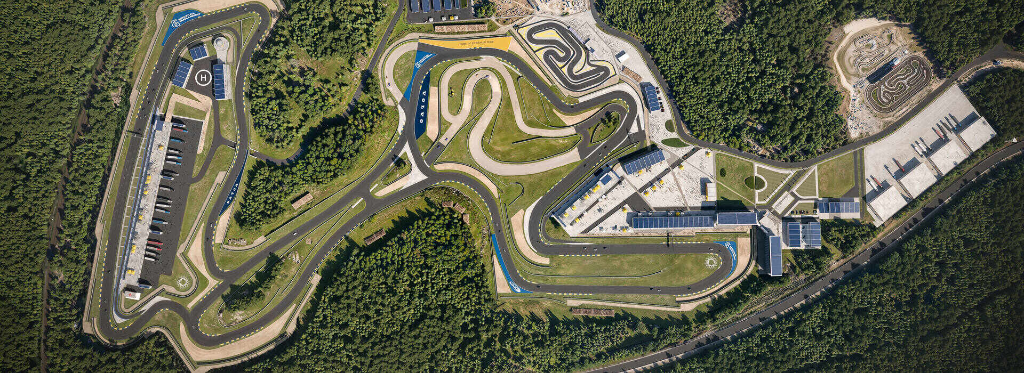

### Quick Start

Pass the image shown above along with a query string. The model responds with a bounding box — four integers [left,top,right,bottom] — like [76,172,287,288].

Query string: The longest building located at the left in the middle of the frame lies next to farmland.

[125,121,173,286]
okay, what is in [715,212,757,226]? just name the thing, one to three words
building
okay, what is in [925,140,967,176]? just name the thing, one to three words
building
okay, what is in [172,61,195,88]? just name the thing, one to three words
shed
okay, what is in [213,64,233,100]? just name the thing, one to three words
shed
